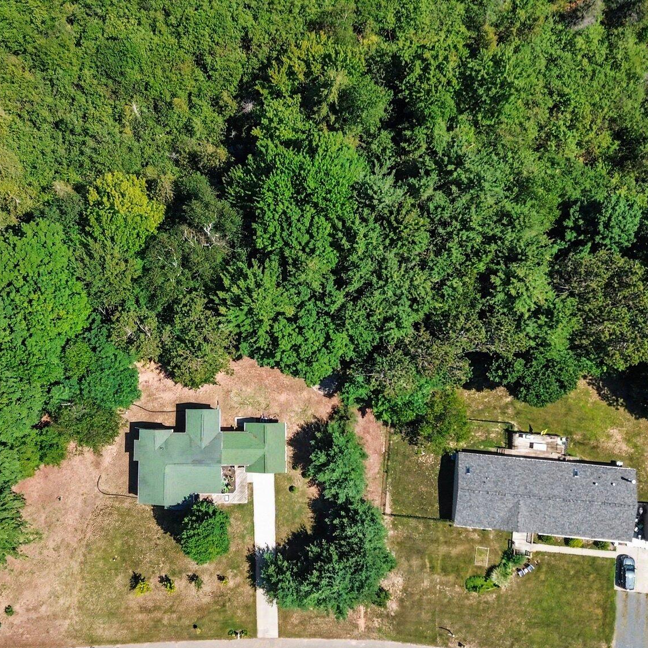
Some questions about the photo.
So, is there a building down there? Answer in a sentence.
Yes, a building appears in the view.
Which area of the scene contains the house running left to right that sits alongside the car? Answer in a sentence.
The house running left to right that sits alongside the car is in the bottom right part of the image.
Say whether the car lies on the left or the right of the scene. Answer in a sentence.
The car appears in the right half of the scene.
